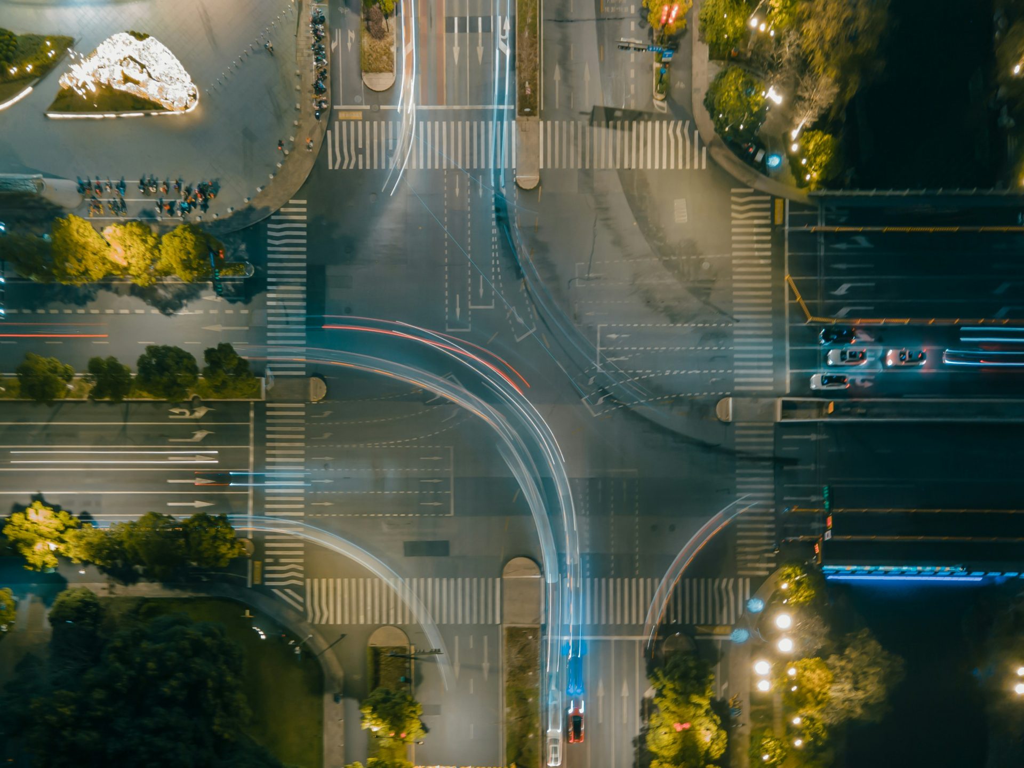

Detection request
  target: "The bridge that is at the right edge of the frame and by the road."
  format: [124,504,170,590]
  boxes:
[819,207,1024,575]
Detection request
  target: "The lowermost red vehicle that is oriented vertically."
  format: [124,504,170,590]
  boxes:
[567,706,585,744]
